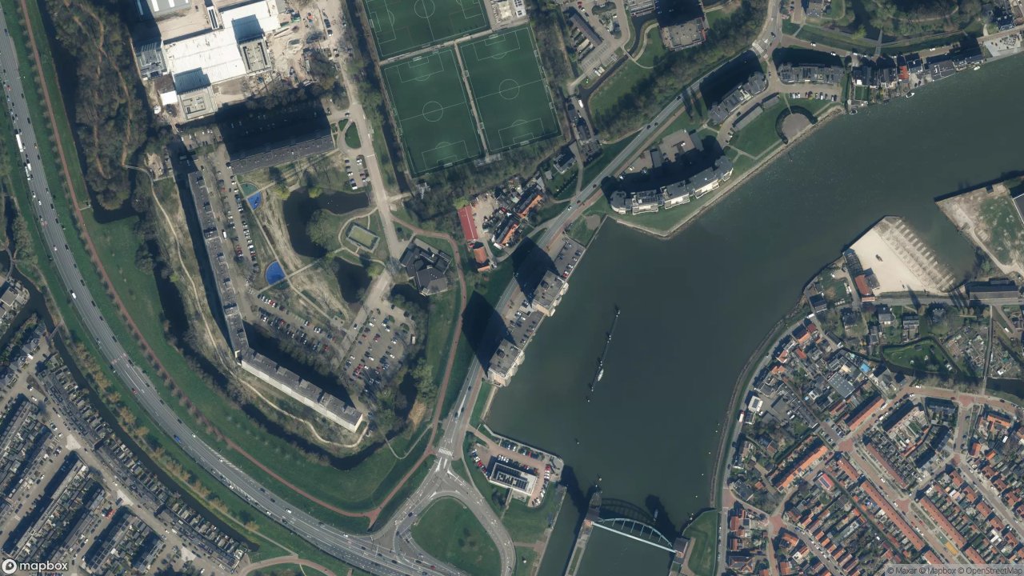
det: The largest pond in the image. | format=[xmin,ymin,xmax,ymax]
[283,189,371,304]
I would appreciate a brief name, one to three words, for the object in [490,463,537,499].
building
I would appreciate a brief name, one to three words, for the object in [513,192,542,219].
house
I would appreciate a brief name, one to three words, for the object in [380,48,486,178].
soccer field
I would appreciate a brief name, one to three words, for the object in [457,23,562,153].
soccer field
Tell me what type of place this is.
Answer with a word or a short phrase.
residential area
